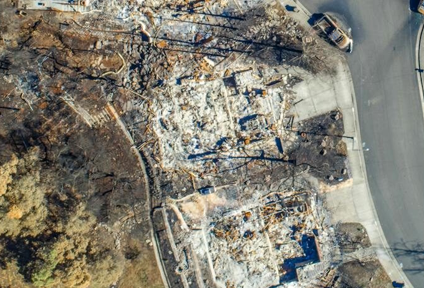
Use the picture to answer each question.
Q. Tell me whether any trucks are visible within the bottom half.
No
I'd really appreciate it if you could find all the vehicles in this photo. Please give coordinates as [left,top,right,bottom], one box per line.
[416,0,424,15]
[312,14,349,53]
